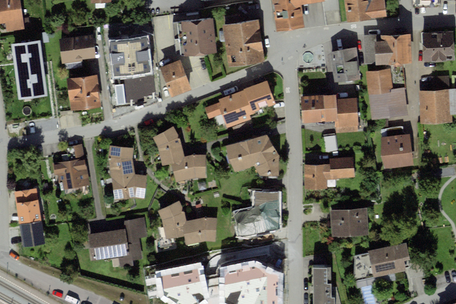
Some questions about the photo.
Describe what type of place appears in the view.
residential area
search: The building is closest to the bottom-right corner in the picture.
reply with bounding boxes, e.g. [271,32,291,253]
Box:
[352,242,410,288]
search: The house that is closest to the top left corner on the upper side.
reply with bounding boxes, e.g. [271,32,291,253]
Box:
[0,0,30,32]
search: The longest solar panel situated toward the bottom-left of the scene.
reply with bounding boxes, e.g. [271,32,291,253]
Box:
[92,244,127,258]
